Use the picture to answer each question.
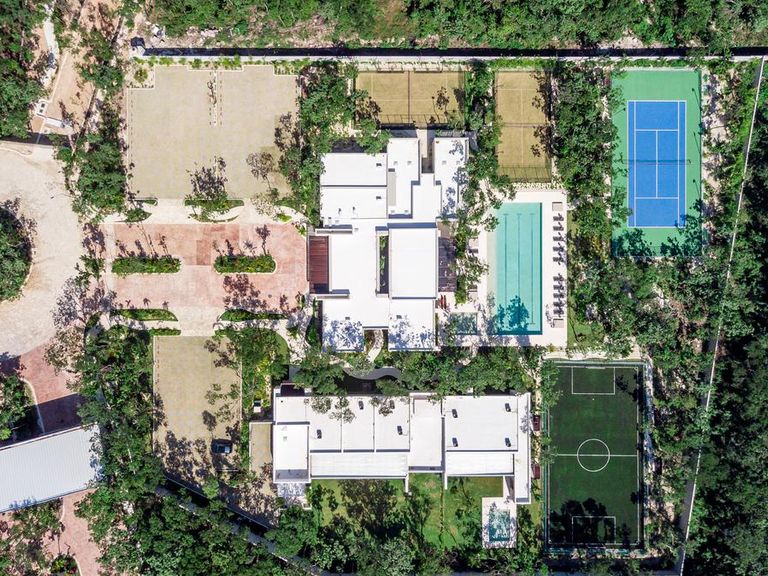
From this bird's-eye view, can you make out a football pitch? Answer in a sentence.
Yes, there's a football pitch down there.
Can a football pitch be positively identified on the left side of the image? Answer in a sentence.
No, no football pitch is visible on the left side of the image.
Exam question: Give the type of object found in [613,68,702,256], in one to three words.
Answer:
tennis court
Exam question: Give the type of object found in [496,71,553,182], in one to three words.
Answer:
sports court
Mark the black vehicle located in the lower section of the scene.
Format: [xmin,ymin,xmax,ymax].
[209,444,232,456]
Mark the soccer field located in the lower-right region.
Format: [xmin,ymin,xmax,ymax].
[545,360,642,547]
